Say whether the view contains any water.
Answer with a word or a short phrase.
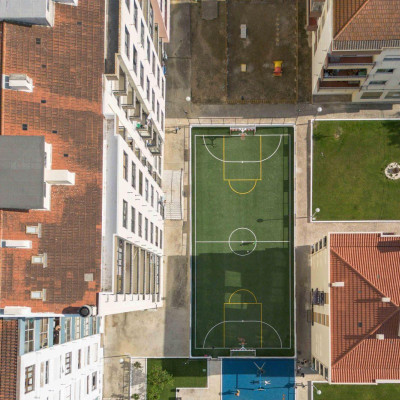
No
